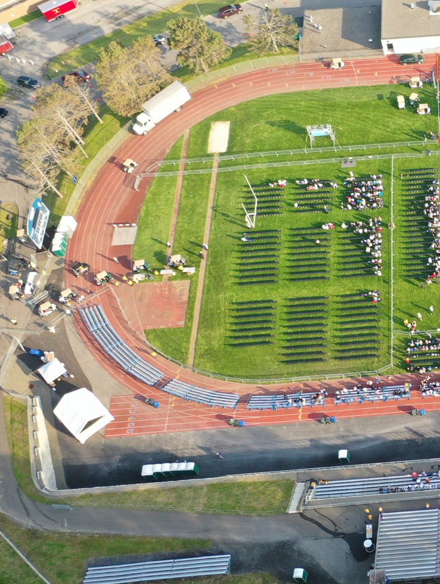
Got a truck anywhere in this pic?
Yes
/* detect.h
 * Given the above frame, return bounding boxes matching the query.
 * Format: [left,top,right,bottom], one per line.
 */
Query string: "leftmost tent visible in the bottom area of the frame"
[38,359,74,390]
